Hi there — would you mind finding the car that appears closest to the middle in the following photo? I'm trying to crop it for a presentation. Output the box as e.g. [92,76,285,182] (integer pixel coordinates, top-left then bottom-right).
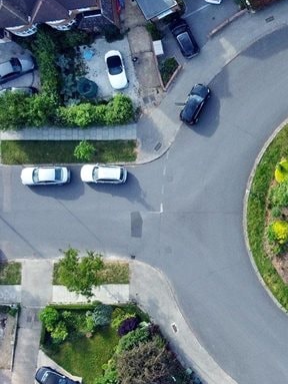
[83,162,129,186]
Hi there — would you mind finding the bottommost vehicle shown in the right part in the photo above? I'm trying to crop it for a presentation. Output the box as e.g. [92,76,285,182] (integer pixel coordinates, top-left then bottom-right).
[177,82,213,127]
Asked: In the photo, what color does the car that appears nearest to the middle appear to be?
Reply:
white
